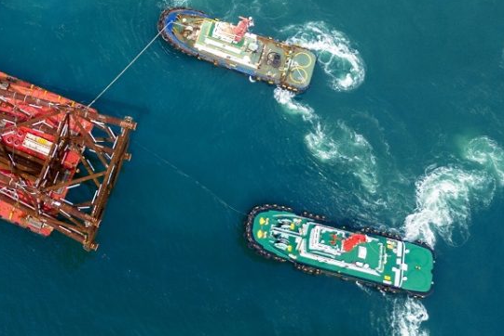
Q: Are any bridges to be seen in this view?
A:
No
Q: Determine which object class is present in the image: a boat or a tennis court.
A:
boat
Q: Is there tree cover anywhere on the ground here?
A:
No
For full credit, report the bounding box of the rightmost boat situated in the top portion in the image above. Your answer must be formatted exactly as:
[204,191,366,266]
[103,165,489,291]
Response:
[159,4,312,93]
